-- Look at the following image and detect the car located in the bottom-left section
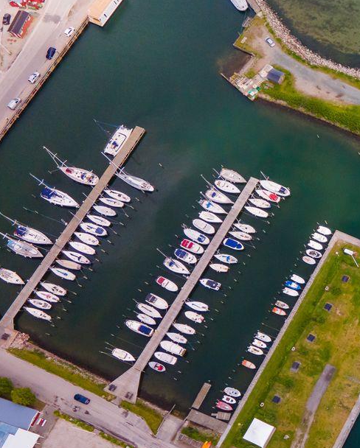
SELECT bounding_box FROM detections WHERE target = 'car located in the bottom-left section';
[74,393,92,405]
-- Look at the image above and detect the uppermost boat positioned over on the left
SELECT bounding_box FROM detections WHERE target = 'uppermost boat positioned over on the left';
[99,117,133,156]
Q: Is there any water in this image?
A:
Yes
